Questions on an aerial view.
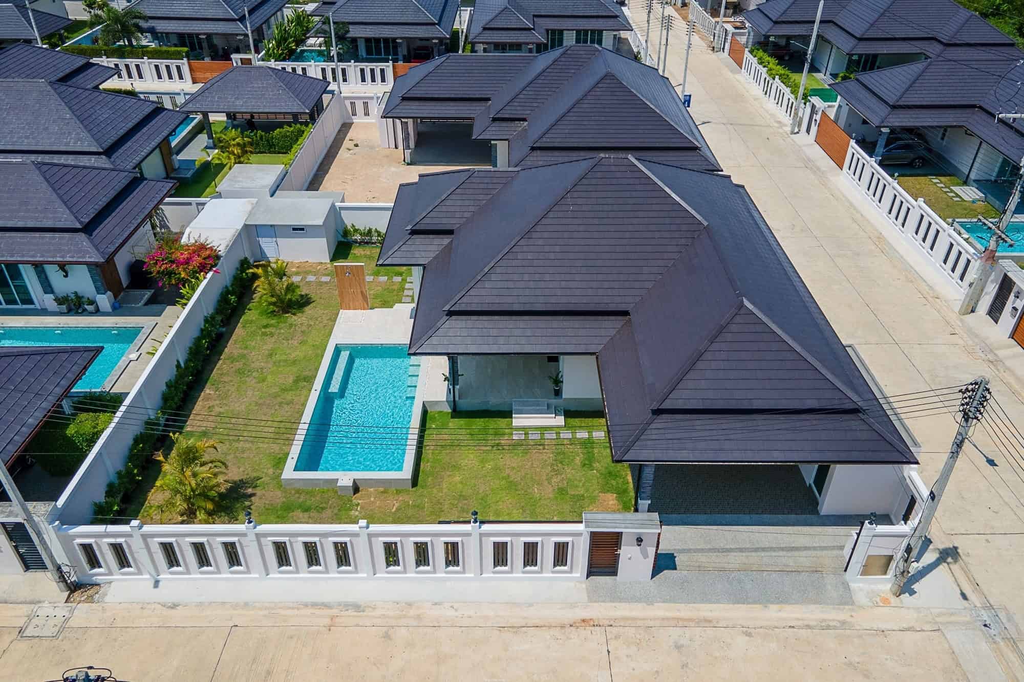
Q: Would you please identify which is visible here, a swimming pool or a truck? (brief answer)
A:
swimming pool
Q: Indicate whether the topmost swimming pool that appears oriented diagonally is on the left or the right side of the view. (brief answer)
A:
left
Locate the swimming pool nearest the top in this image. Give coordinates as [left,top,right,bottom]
[290,48,346,62]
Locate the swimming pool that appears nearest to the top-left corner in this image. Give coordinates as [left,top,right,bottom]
[170,119,199,151]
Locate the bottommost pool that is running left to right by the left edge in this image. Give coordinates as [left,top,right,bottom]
[0,322,157,377]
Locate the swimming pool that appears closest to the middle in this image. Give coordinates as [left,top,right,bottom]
[277,340,431,495]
